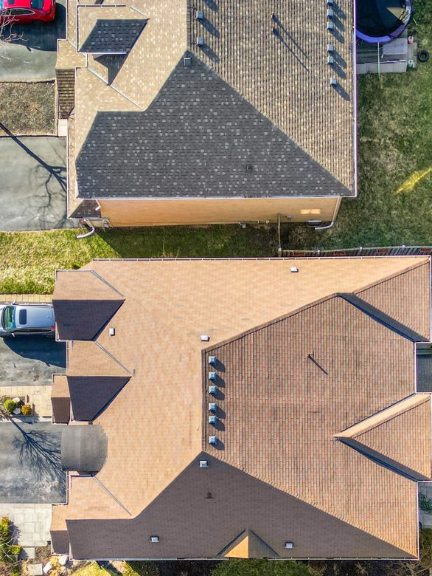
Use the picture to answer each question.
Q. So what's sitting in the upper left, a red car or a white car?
red car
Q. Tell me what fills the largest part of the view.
buildings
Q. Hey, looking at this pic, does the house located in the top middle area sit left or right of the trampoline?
to the left of it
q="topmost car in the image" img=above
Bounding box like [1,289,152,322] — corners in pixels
[0,0,54,30]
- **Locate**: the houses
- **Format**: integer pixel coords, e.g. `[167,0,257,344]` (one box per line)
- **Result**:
[50,255,432,561]
[54,0,356,237]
